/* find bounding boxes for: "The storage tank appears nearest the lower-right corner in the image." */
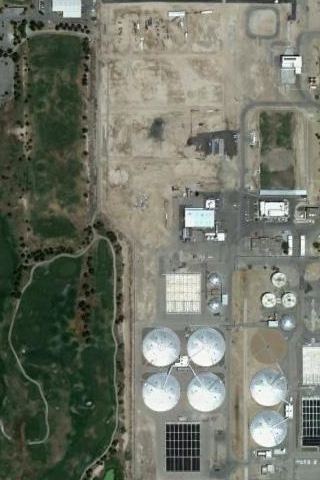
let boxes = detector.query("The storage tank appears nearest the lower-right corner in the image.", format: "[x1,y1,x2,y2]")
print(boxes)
[250,409,288,447]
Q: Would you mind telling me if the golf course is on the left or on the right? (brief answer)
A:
left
